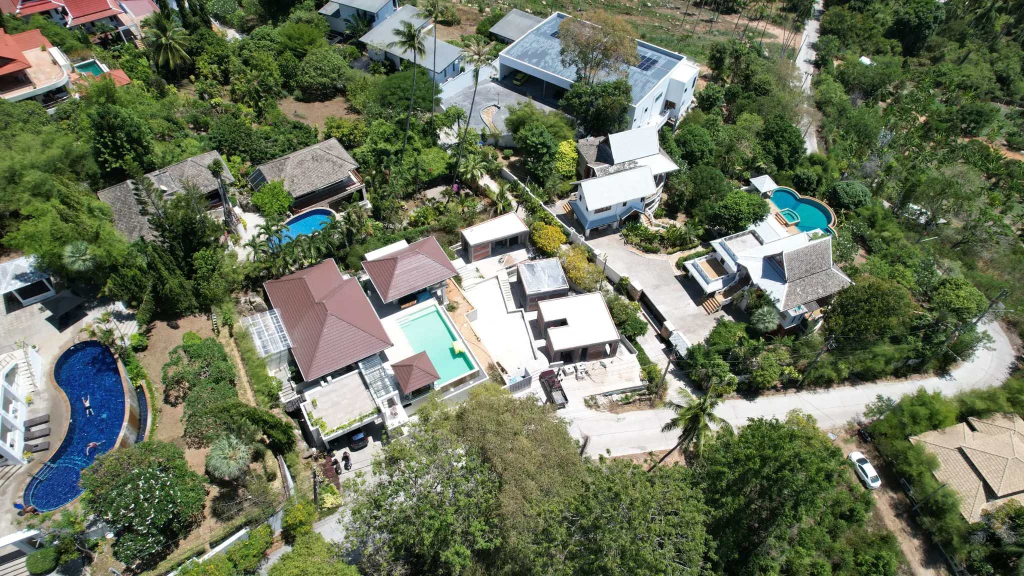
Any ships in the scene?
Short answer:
No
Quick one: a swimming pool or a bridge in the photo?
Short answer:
swimming pool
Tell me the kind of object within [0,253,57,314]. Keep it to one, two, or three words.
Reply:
gazebo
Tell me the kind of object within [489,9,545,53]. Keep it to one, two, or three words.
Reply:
house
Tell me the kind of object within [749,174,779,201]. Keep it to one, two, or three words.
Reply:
gazebo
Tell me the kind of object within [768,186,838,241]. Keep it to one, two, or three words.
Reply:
swimming pool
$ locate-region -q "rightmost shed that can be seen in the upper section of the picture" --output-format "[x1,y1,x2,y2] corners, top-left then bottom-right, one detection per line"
[900,203,939,230]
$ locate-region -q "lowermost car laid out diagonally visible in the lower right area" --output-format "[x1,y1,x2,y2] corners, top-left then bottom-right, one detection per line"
[843,452,886,494]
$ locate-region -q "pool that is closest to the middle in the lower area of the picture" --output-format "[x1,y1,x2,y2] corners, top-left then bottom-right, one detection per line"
[397,299,476,406]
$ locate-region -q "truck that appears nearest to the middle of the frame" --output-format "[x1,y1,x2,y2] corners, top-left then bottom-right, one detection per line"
[538,372,572,410]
